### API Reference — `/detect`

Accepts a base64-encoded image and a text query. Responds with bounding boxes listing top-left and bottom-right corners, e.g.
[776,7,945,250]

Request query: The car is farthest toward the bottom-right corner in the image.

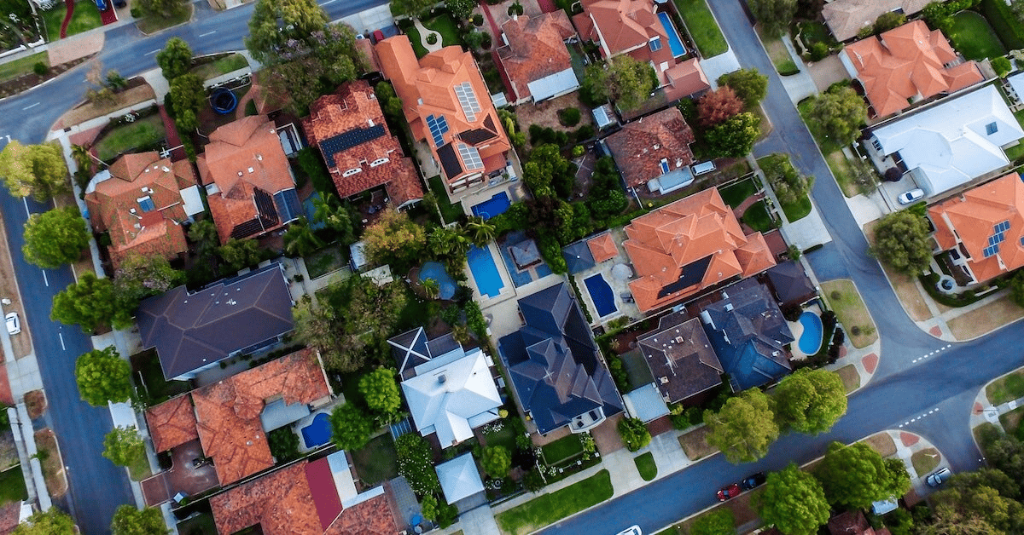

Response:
[925,467,952,486]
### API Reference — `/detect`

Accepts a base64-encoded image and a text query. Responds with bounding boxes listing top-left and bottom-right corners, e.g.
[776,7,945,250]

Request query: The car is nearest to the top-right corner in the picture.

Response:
[897,189,924,204]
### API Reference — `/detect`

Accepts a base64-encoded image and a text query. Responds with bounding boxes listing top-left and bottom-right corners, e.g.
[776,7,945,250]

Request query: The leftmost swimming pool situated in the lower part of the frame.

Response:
[299,411,338,451]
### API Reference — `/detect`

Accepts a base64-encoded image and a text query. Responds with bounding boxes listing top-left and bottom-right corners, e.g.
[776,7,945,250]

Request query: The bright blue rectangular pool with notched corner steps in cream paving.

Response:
[467,243,506,299]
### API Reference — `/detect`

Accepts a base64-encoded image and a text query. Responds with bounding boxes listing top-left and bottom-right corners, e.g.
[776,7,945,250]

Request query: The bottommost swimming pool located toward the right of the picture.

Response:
[797,310,829,356]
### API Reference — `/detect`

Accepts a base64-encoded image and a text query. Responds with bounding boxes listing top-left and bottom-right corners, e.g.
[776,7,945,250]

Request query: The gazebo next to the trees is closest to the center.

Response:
[509,239,540,270]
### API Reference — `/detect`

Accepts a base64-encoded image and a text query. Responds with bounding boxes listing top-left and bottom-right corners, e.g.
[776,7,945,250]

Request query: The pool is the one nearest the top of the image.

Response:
[662,13,687,59]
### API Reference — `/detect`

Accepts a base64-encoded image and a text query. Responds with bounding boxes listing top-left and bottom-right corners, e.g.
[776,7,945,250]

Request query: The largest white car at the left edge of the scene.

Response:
[5,310,21,335]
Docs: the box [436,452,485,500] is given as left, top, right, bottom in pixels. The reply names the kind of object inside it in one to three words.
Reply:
building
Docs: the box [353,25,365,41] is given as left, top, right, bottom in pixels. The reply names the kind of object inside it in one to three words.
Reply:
vehicle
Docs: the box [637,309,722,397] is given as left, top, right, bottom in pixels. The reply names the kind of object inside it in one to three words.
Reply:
house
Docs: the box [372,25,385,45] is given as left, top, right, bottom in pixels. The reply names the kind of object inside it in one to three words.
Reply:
vehicle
